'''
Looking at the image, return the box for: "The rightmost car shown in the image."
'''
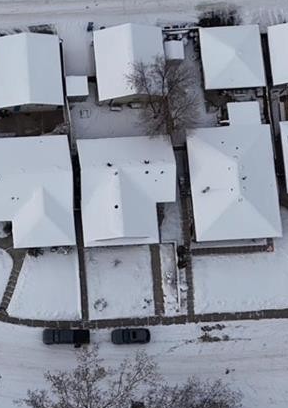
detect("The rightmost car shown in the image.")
[112,327,152,345]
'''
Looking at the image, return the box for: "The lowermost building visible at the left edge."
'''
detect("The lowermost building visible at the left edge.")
[0,135,76,248]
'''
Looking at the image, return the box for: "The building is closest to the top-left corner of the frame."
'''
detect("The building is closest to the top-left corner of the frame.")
[0,32,64,108]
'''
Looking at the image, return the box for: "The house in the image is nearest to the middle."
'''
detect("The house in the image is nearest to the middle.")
[76,135,177,247]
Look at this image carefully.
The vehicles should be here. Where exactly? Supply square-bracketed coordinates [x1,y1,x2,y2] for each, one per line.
[112,327,152,345]
[43,327,92,346]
